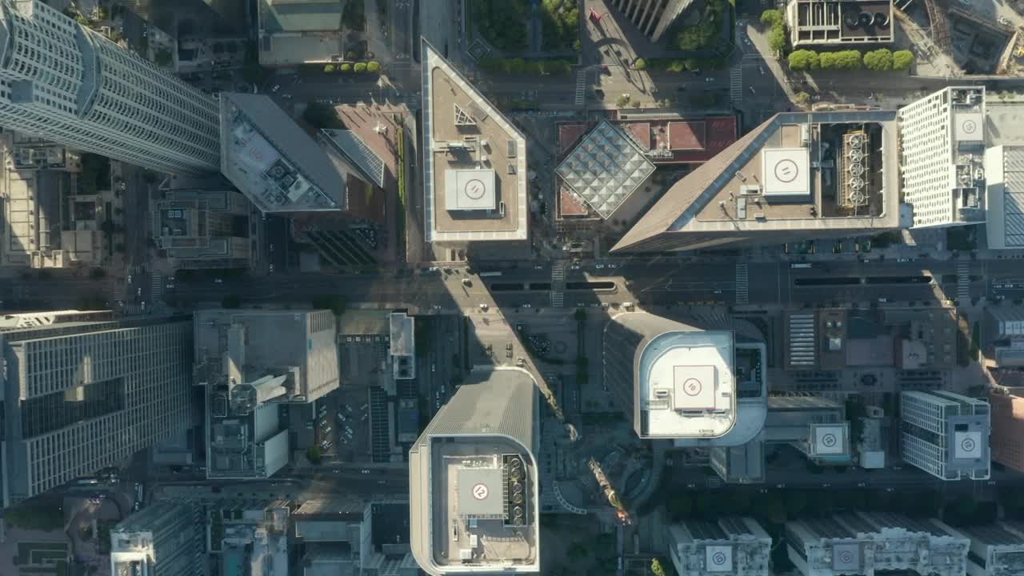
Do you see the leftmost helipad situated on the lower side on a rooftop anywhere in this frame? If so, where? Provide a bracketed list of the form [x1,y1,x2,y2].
[459,467,504,515]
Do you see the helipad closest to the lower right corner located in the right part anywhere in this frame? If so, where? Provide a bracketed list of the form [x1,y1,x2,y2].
[954,432,981,458]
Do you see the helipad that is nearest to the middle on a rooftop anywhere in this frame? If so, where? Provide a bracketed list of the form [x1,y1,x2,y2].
[446,170,496,210]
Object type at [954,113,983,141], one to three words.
helipad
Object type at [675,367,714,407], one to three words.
helipad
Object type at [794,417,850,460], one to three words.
building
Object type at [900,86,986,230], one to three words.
building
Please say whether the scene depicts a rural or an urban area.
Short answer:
urban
